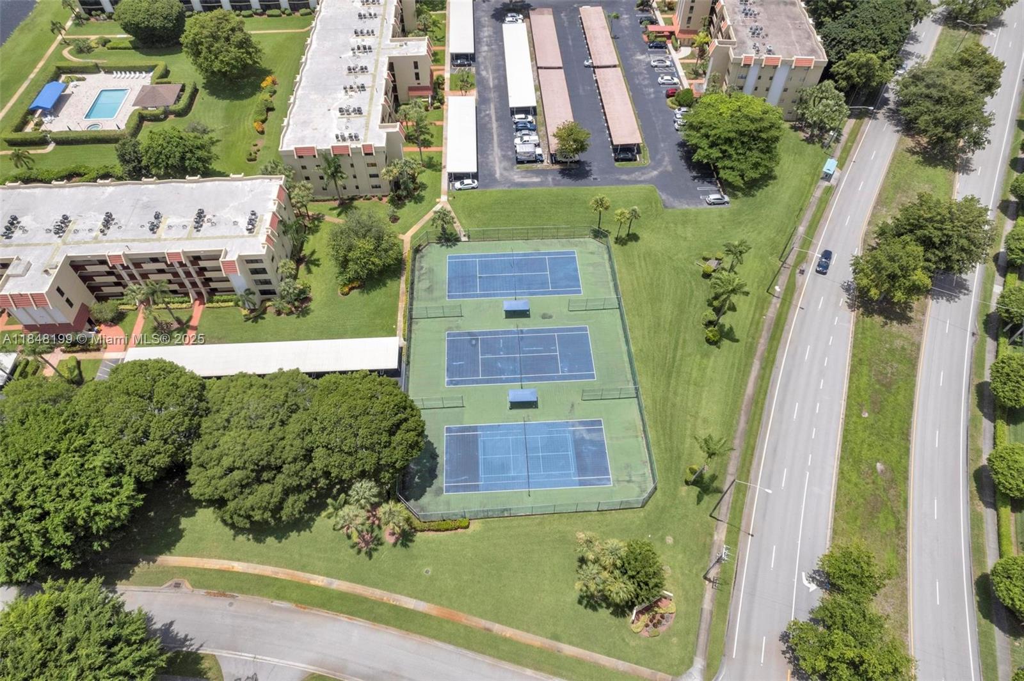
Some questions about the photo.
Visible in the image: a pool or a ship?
pool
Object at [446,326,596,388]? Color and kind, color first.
blue tennis court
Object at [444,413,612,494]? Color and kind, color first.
blue tennis court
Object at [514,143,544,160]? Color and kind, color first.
white vehicle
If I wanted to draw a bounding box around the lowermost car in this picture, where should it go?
[816,250,834,275]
